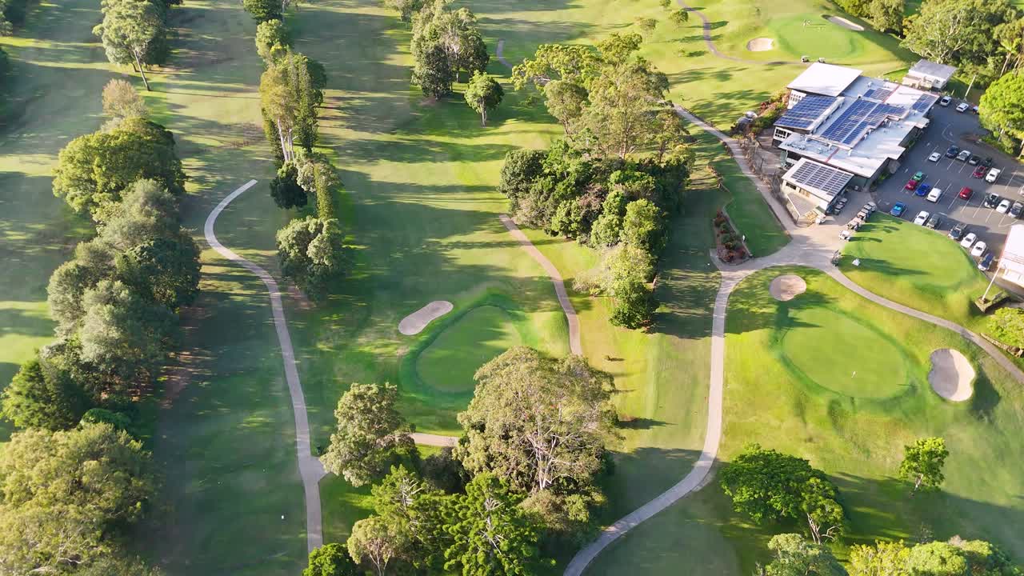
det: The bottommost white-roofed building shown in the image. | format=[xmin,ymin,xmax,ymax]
[991,225,1024,293]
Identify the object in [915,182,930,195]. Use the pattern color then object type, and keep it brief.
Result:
blue vehicle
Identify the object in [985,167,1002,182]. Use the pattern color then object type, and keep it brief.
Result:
white car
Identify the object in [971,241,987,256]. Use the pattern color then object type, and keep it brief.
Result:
white car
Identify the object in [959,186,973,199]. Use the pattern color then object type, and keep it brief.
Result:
red vehicle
